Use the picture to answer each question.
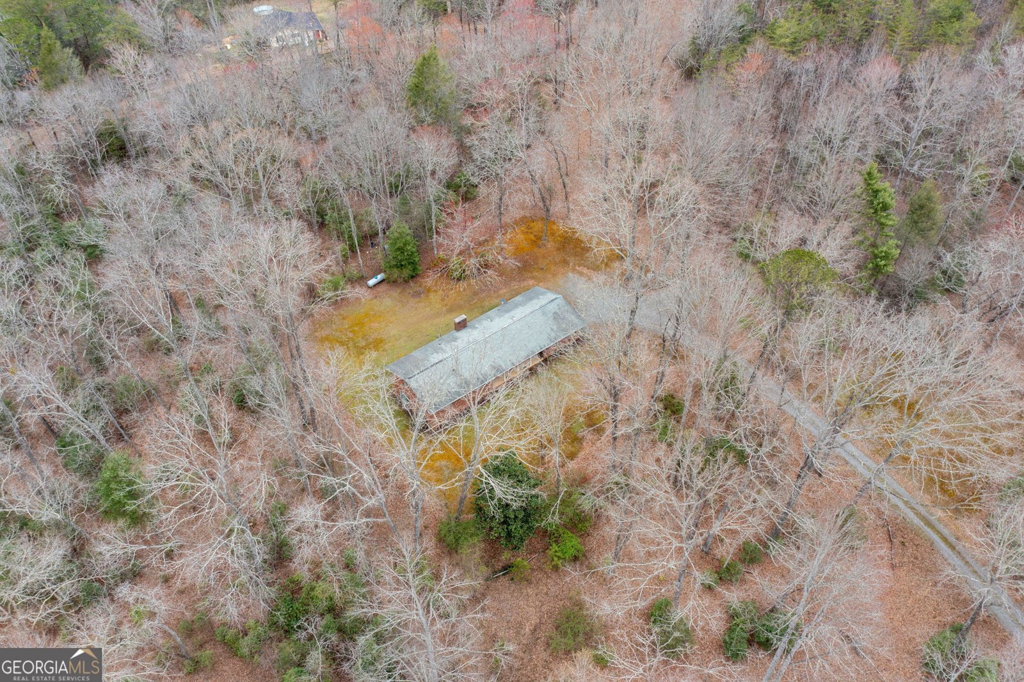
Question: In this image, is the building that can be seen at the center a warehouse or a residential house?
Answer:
residential house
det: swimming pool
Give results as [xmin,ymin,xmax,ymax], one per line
[249,2,275,17]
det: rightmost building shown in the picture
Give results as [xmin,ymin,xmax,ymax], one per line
[386,288,586,426]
